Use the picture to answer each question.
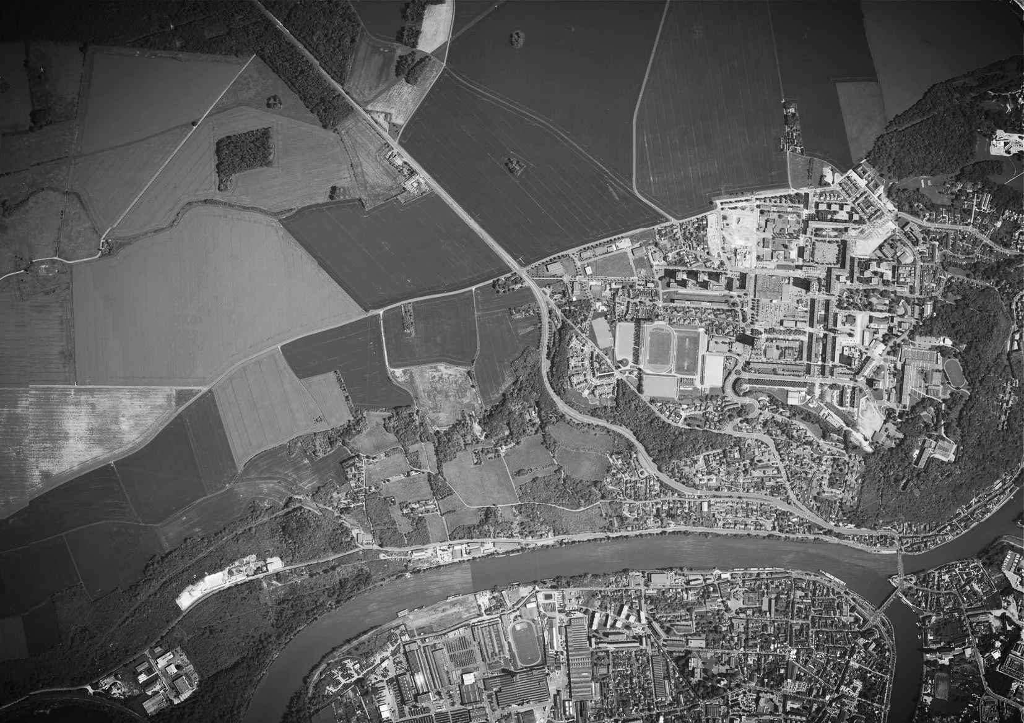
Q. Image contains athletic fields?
Yes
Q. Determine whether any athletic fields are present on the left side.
No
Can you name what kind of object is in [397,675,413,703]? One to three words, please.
building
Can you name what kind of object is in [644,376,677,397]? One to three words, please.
sports field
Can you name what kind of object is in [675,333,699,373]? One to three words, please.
sports field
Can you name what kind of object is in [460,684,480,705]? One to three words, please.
building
